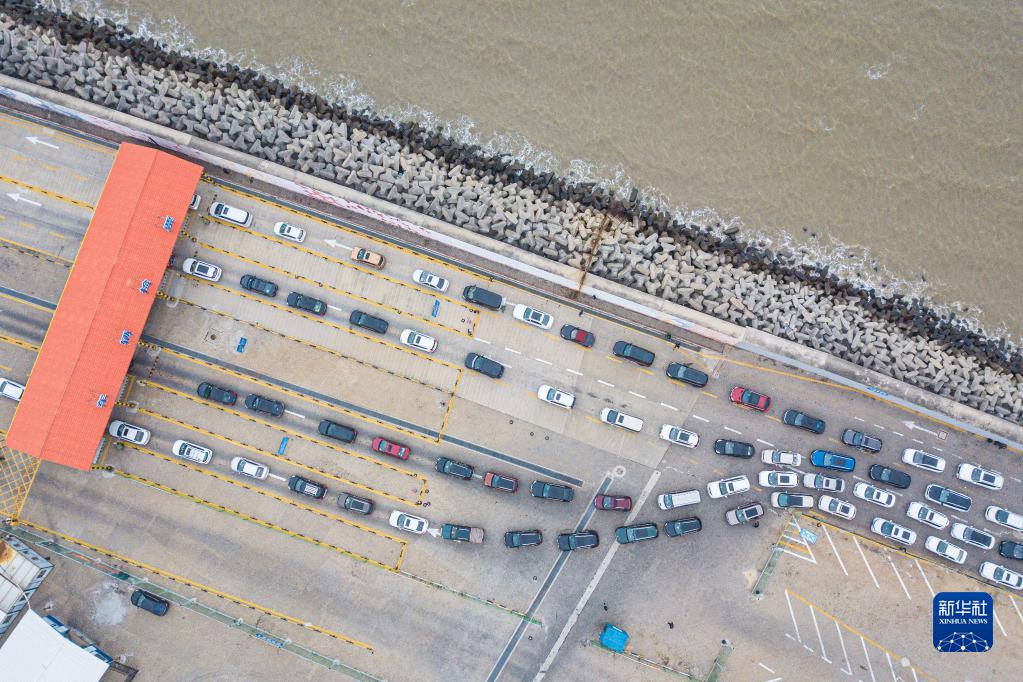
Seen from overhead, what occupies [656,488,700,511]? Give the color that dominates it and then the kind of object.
white vehicle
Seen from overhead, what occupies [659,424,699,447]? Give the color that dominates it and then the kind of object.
white car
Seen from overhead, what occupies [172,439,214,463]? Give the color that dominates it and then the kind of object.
white car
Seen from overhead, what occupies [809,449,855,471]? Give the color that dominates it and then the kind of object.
blue car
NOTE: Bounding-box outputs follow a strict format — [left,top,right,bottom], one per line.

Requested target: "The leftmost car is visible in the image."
[0,375,28,401]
